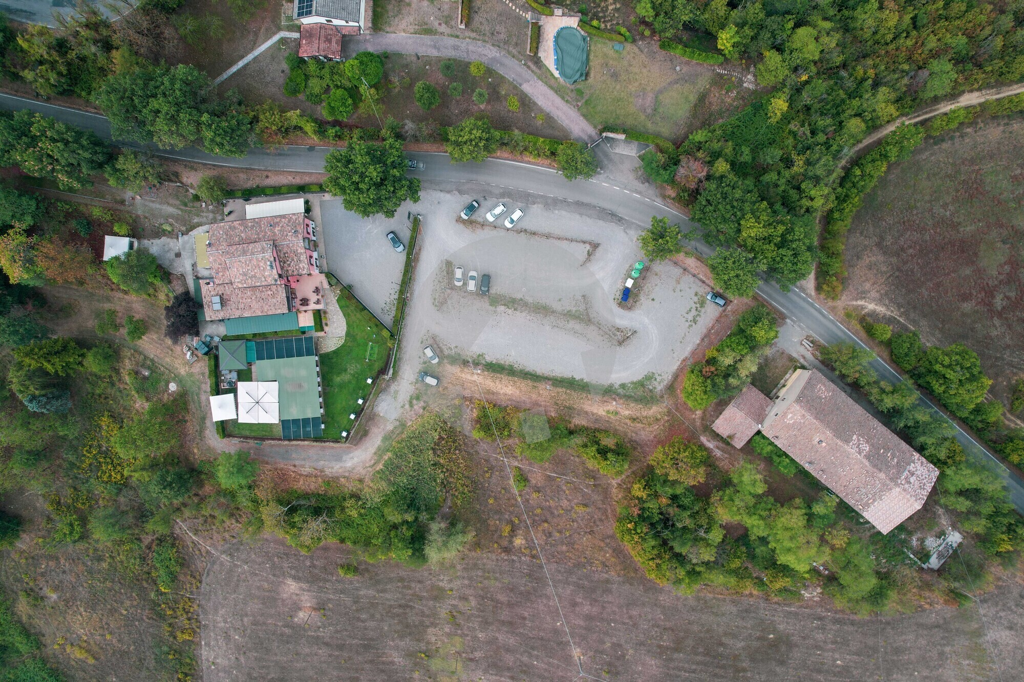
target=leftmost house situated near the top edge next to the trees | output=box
[292,0,364,60]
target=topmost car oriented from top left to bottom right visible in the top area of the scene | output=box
[386,230,405,253]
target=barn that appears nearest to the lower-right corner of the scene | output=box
[756,368,940,535]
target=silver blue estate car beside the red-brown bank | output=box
[706,292,727,308]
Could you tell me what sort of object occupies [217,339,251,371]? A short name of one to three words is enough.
building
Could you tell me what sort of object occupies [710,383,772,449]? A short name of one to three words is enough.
shed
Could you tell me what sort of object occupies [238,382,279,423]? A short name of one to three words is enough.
umbrella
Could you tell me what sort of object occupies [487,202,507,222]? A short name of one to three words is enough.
car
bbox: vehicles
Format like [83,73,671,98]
[467,270,478,292]
[480,273,491,295]
[418,373,441,387]
[706,292,727,308]
[461,199,480,220]
[386,230,405,253]
[423,344,440,364]
[505,207,524,228]
[487,202,507,222]
[453,266,464,286]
